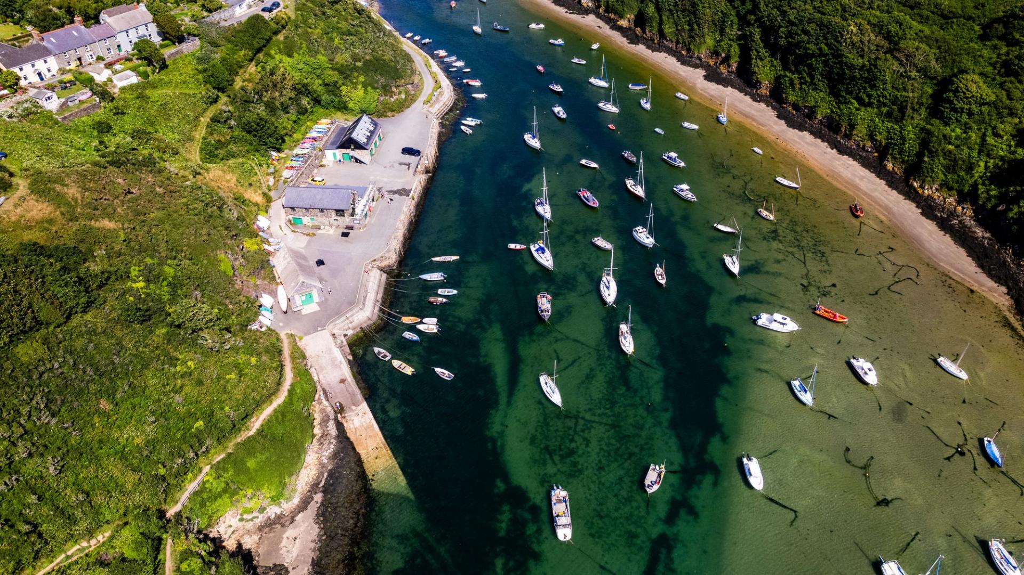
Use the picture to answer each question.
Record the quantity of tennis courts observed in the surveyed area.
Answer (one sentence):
No tennis courts are visible.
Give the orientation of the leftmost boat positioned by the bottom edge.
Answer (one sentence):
From this overhead view, the leftmost boat positioned by the bottom edge appears to run from top to bottom.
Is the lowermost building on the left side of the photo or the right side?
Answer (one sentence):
The lowermost building appears in the left half of the scene.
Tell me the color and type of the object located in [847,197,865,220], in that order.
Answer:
red boat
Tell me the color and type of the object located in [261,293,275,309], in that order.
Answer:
white boat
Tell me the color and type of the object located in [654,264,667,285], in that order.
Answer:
white boat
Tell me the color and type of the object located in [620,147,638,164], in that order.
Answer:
gray boat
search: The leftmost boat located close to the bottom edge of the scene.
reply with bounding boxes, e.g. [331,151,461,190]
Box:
[551,484,572,553]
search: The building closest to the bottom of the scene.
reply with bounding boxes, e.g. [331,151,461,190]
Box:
[270,229,324,317]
